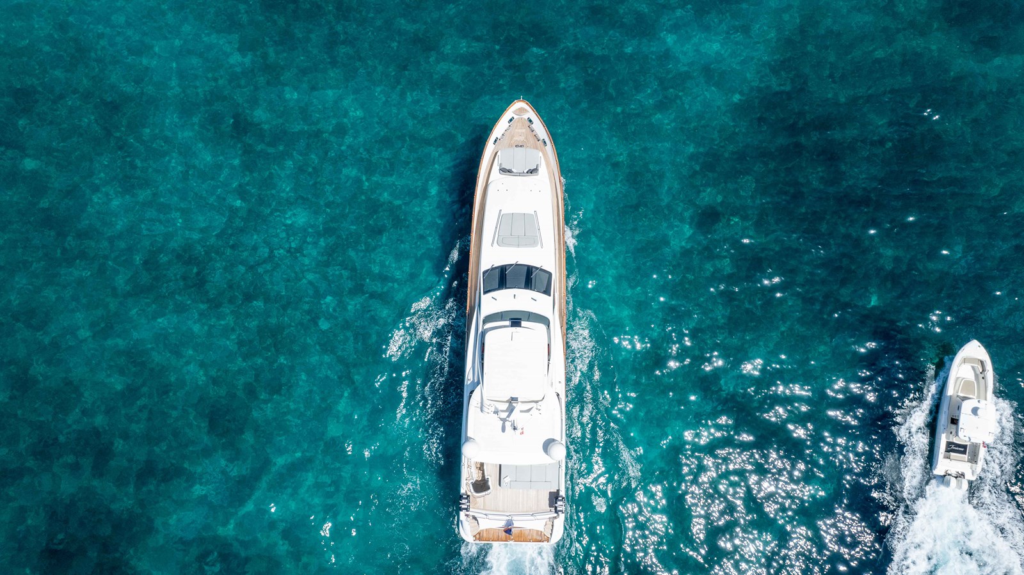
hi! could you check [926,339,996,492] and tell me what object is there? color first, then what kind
white boat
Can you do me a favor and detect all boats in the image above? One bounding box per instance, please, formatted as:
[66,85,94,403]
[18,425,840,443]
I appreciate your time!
[460,95,566,544]
[926,339,996,492]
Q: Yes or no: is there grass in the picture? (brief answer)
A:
No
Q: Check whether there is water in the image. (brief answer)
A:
Yes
